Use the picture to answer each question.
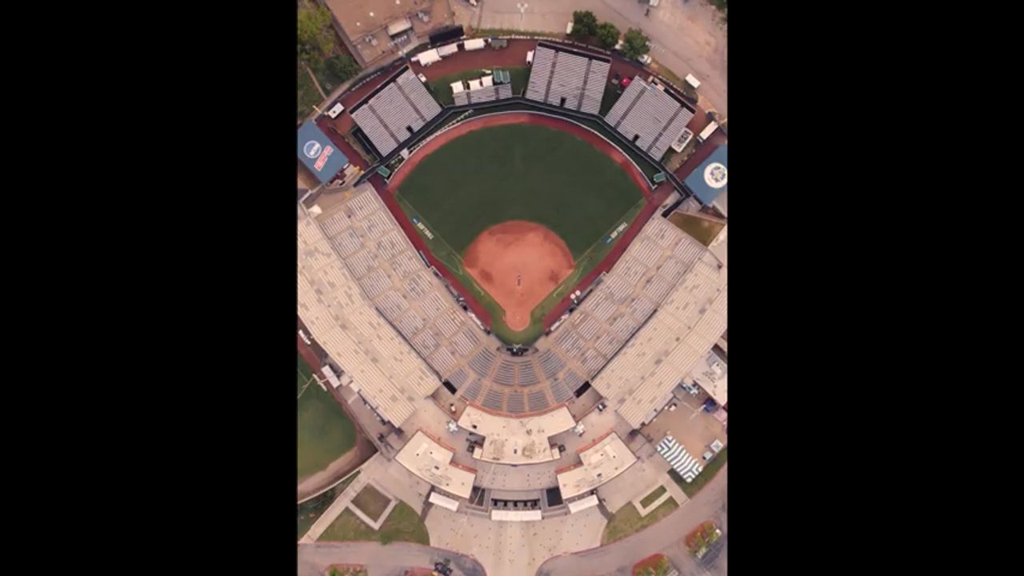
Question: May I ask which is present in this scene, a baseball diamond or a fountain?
baseball diamond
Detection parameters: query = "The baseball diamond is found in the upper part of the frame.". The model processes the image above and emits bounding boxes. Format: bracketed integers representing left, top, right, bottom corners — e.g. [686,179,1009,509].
[371,113,668,346]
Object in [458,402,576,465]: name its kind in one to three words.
building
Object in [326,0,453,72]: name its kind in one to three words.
building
